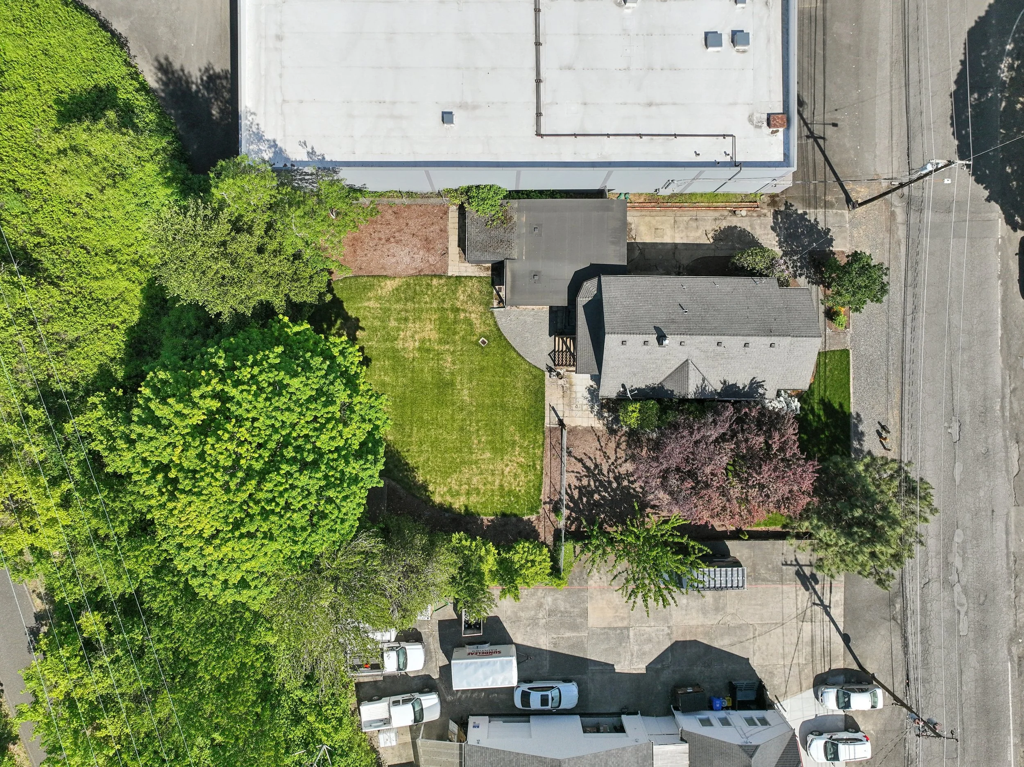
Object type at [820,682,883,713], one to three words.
car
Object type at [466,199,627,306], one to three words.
building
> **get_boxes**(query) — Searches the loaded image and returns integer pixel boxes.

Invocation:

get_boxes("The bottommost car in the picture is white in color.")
[809,729,873,764]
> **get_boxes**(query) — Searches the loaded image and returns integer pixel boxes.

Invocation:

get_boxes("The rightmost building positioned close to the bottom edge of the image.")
[671,706,794,767]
